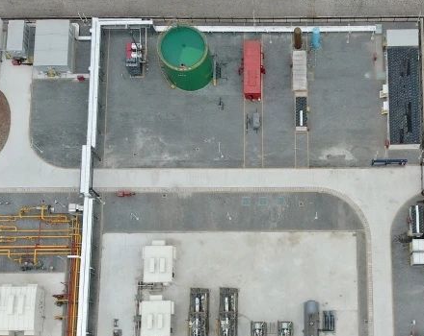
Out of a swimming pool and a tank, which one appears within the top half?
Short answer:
tank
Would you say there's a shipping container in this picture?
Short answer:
Yes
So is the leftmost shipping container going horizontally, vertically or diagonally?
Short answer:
vertically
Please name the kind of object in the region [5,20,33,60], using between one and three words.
house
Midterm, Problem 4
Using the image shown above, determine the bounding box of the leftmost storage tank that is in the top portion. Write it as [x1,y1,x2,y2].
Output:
[155,20,217,90]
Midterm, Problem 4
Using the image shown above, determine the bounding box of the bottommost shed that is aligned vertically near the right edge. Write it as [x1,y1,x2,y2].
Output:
[408,205,424,240]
